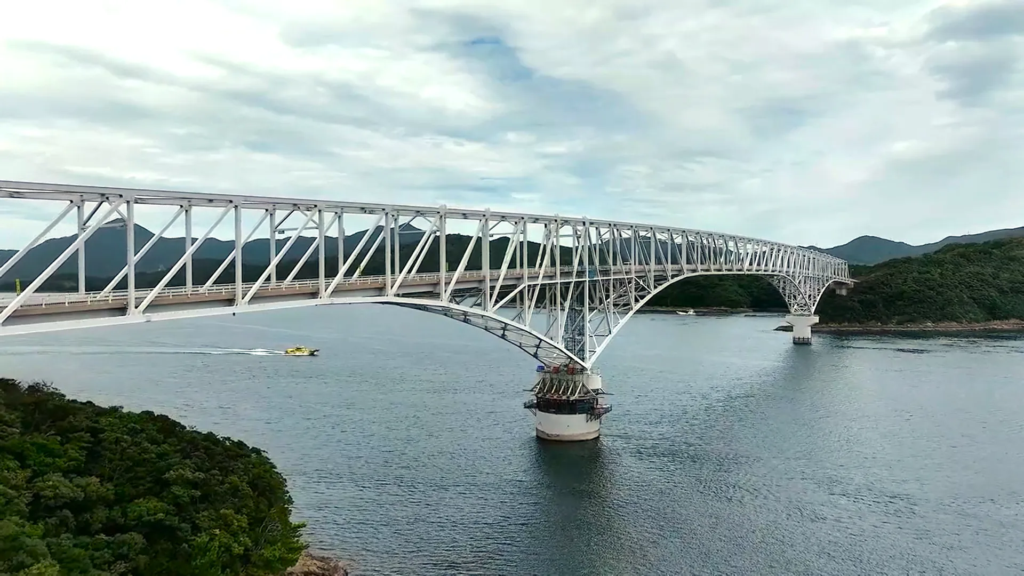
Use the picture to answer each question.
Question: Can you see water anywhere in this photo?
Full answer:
Yes, the picture does contain water.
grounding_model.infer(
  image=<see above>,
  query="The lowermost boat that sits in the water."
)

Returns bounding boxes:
[285,343,320,355]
